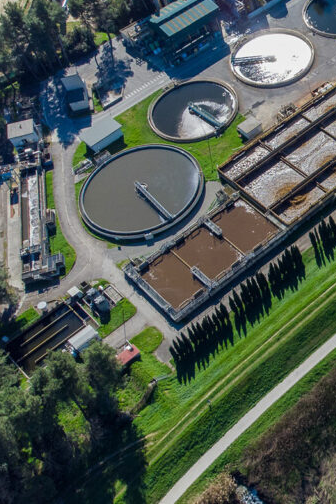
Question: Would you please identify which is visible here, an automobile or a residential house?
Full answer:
Of the two, only a residential house appears.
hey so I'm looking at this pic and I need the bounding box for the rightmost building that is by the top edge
[149,0,223,57]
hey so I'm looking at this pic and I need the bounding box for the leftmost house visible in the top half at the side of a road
[7,119,38,147]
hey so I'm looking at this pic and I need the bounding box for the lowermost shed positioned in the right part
[237,116,263,140]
